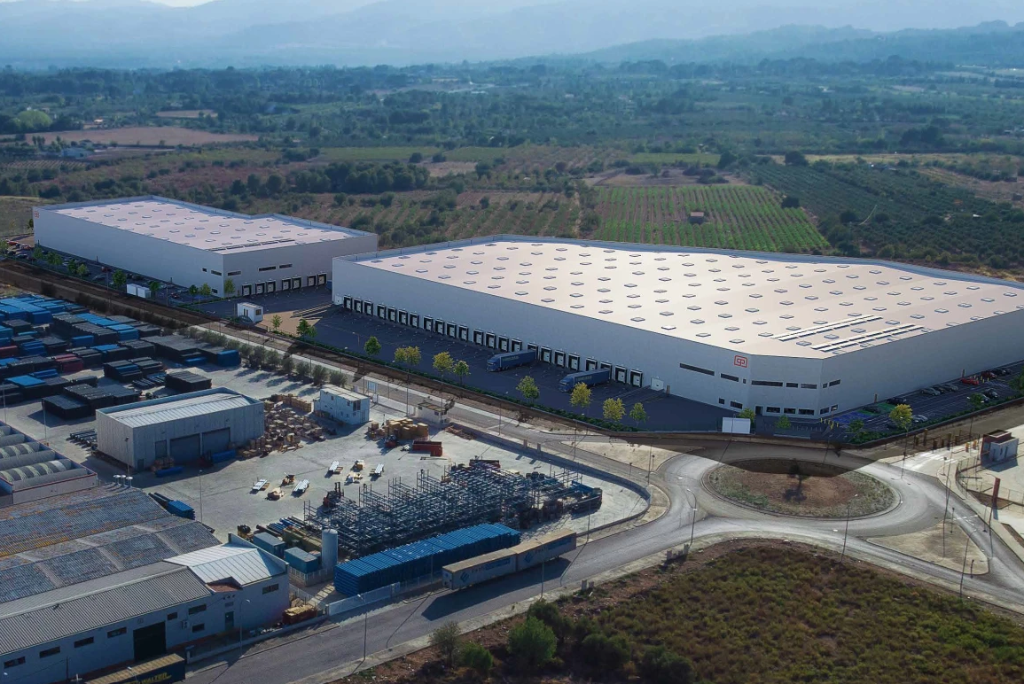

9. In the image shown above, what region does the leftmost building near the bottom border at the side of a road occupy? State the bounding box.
[0,483,223,684]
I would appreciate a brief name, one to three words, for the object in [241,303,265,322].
building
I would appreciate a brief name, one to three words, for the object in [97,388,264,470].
building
